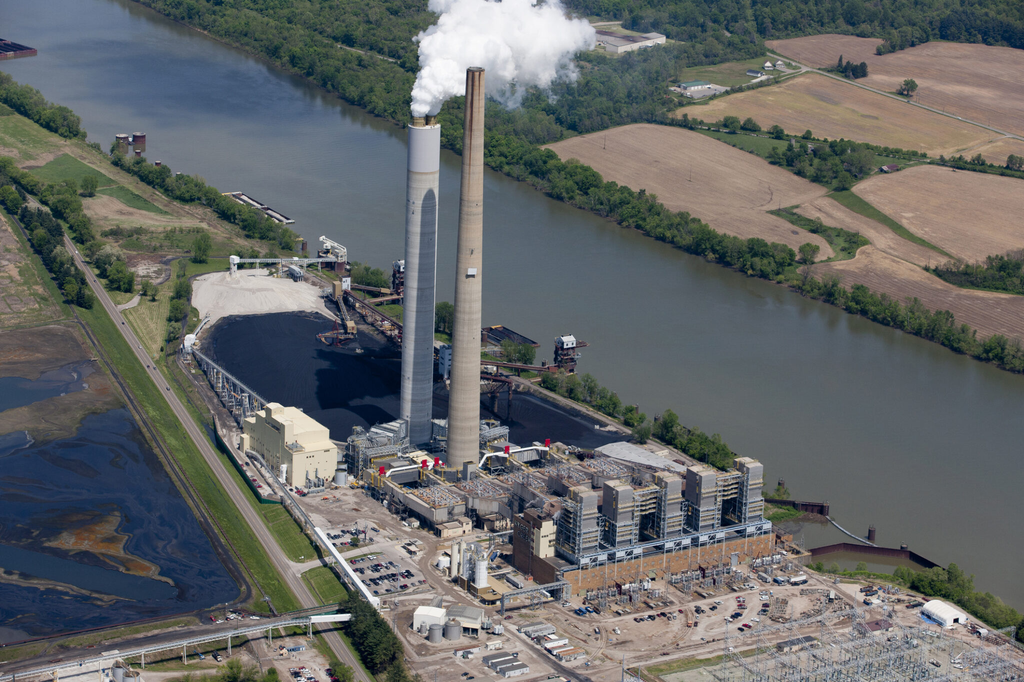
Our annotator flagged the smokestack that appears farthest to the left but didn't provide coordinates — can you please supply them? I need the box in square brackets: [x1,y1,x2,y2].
[399,111,440,439]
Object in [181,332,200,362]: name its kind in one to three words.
house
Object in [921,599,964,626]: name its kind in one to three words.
shed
